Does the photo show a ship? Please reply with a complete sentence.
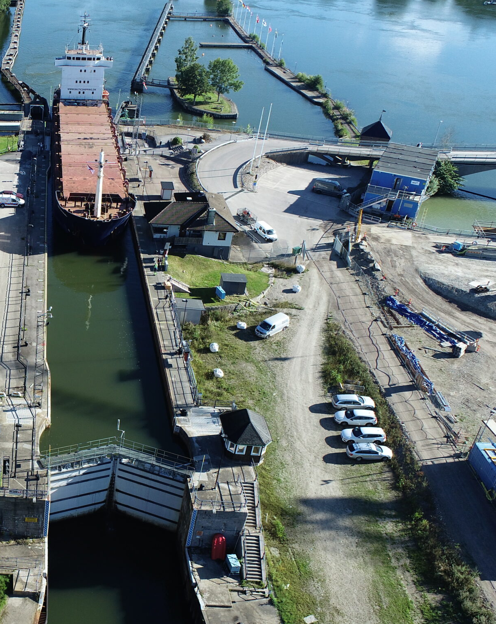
Yes, I can see a ship in this picture.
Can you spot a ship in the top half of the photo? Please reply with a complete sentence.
Yes, a ship shows up in the top half of the photo.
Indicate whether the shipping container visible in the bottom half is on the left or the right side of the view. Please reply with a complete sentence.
The shipping container visible in the bottom half appears in the right half of the scene.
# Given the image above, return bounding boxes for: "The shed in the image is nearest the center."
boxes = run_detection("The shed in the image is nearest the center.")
[218,270,253,297]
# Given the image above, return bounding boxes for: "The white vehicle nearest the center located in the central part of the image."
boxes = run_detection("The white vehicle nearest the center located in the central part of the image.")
[256,306,296,333]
